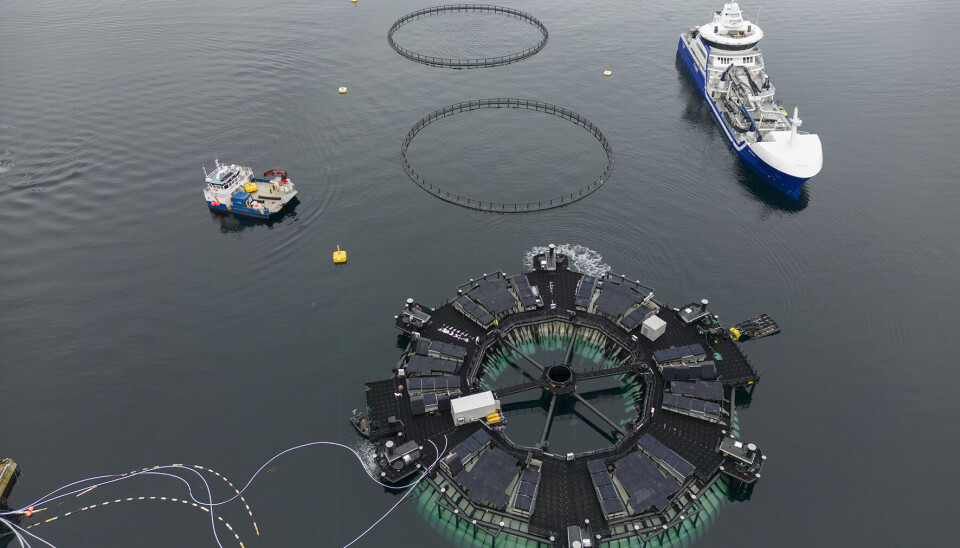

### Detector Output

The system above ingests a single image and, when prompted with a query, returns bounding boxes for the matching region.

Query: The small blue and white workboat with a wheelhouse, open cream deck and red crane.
[203,154,297,220]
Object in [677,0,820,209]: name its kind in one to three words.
ship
